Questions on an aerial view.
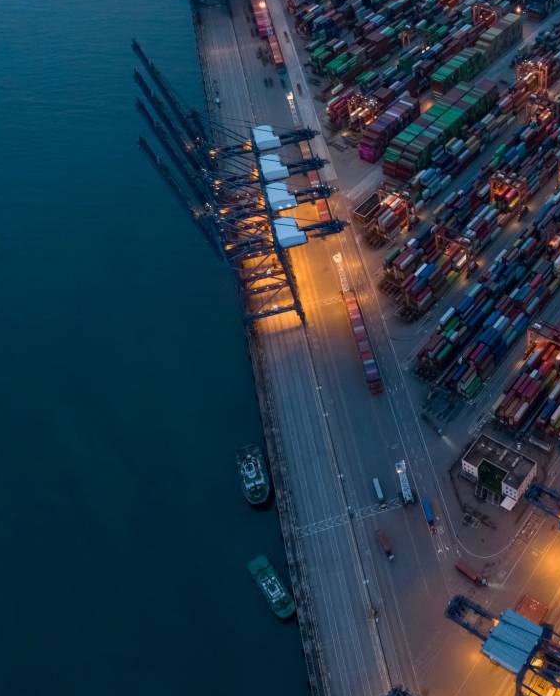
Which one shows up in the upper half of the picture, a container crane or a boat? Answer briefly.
container crane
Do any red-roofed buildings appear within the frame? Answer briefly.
No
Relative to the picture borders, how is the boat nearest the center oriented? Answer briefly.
vertically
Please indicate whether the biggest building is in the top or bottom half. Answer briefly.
bottom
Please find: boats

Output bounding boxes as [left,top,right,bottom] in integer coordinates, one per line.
[244,551,293,618]
[235,441,267,504]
